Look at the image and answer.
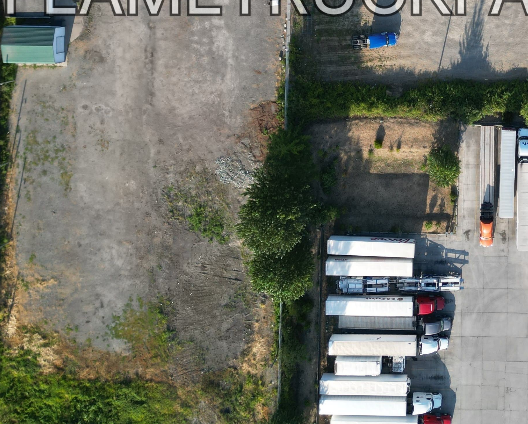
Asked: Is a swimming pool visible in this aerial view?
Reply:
No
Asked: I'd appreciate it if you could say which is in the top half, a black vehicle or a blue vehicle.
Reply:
blue vehicle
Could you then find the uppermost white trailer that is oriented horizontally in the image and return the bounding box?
[327,234,415,257]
